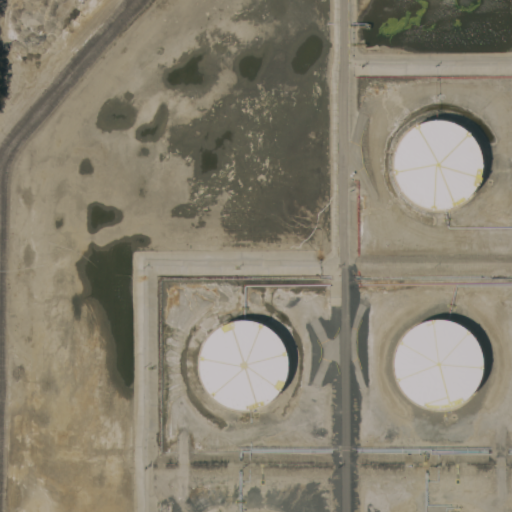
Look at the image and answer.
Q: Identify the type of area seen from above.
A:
industrial area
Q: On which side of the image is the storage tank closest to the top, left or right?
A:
right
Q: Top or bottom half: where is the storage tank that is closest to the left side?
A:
bottom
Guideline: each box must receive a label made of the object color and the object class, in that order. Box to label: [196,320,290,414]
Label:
white storage tank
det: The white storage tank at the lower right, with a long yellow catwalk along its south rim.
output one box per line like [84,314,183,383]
[392,319,485,412]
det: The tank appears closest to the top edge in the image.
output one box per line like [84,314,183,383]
[390,119,484,212]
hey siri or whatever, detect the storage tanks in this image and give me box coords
[196,320,290,414]
[392,319,485,412]
[390,119,484,212]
